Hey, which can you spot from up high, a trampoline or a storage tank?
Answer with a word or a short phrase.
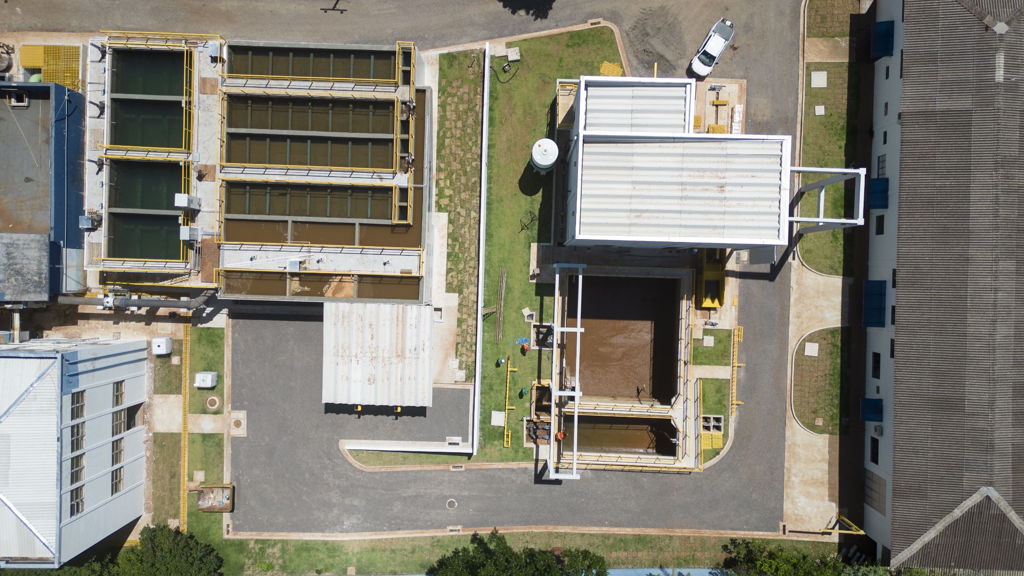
storage tank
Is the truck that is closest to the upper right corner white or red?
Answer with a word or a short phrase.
white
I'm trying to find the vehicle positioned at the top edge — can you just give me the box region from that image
[688,18,737,82]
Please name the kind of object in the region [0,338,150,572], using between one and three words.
building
